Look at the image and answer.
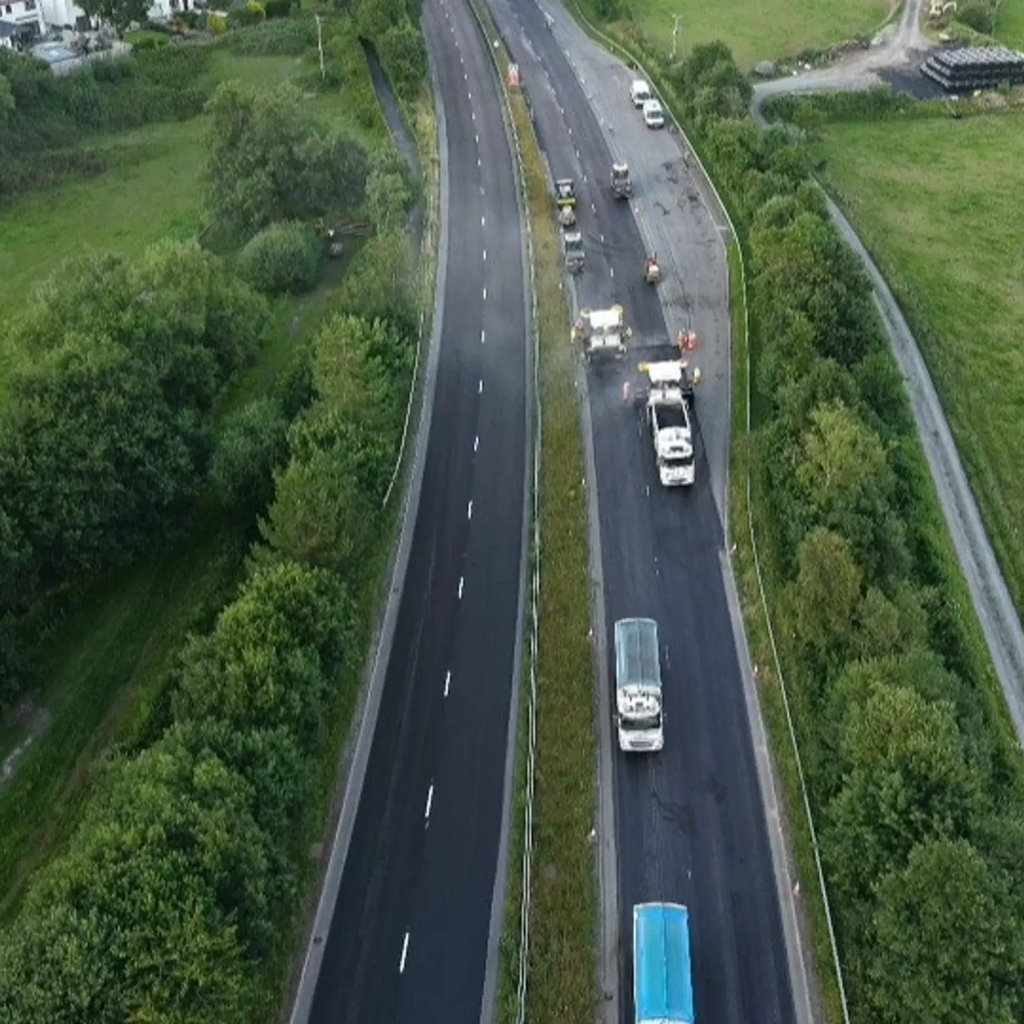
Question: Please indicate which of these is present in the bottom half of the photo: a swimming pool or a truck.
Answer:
truck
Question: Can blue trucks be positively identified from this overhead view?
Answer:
Yes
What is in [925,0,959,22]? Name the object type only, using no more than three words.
work vehicle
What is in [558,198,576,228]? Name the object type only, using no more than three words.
work vehicle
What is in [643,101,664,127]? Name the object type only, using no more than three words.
vehicle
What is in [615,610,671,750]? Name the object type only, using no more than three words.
truck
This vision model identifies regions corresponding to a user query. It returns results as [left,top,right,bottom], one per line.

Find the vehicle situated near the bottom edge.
[632,905,695,1024]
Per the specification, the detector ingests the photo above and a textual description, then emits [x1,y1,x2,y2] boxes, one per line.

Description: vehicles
[632,905,695,1024]
[558,198,576,228]
[556,179,573,208]
[609,165,629,198]
[615,610,671,750]
[925,0,959,22]
[649,394,700,484]
[643,101,664,127]
[630,83,650,108]
[562,233,584,274]
[641,252,663,282]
